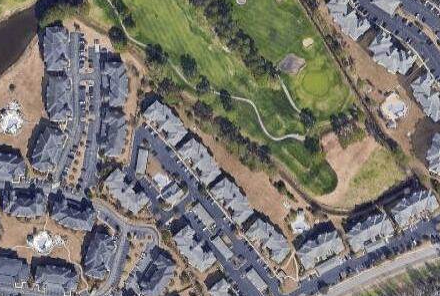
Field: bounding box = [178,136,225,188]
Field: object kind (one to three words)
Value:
building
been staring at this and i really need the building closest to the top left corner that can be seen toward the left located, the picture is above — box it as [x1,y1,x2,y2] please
[43,26,70,72]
